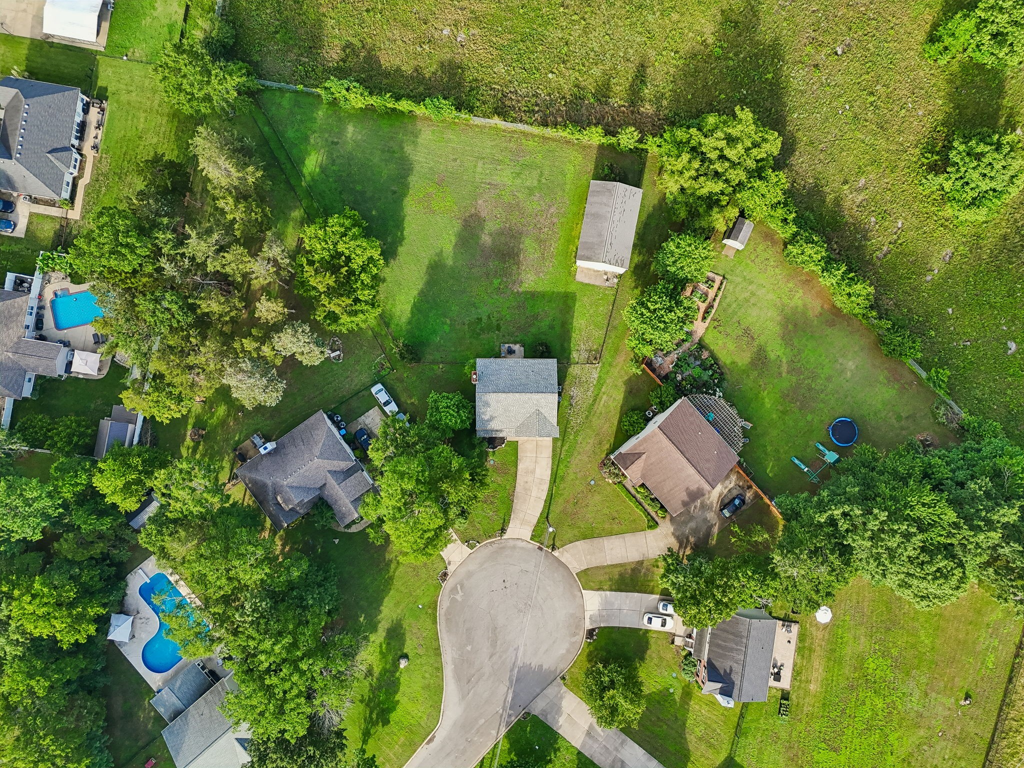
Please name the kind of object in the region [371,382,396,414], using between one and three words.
car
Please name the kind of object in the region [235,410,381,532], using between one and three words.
house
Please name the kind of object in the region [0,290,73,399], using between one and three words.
house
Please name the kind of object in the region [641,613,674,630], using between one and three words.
car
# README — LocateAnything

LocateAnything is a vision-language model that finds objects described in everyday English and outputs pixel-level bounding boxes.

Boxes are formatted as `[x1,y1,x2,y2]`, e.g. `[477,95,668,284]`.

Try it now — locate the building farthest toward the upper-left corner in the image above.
[42,0,115,54]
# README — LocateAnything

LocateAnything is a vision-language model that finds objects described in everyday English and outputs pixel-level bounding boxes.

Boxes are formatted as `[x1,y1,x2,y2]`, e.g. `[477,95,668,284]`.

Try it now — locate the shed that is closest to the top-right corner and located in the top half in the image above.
[721,217,753,248]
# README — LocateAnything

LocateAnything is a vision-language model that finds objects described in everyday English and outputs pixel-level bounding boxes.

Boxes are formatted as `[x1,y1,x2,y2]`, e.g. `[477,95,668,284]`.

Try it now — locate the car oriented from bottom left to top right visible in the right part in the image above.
[718,491,746,521]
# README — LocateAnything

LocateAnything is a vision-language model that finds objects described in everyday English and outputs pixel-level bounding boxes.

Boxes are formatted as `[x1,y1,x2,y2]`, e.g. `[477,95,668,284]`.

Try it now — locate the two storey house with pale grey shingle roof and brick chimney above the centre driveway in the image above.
[471,358,559,437]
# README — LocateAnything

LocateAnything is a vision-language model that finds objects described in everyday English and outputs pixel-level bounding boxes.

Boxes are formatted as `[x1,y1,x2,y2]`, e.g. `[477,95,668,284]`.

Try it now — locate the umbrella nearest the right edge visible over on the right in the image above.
[815,606,832,623]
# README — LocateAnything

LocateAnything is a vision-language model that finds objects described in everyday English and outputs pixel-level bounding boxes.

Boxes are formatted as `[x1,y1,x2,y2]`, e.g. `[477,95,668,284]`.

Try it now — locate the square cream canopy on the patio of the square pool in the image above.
[71,350,107,376]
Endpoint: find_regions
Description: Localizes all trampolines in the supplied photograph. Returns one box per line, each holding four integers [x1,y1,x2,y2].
[823,418,858,446]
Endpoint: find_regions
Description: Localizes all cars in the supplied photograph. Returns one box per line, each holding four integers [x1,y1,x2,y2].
[0,217,18,233]
[0,198,19,214]
[354,427,374,458]
[653,599,685,617]
[718,491,746,521]
[641,613,674,630]
[371,382,396,414]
